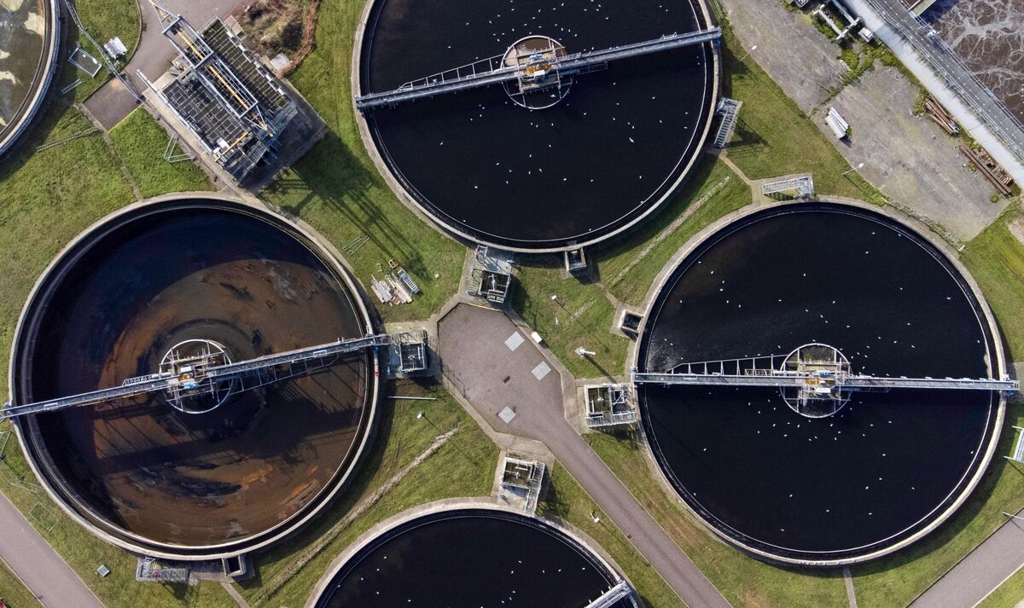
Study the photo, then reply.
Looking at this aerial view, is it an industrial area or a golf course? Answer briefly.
industrial area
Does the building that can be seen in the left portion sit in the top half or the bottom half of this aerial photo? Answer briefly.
top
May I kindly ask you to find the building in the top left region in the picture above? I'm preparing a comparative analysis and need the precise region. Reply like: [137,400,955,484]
[136,0,309,187]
